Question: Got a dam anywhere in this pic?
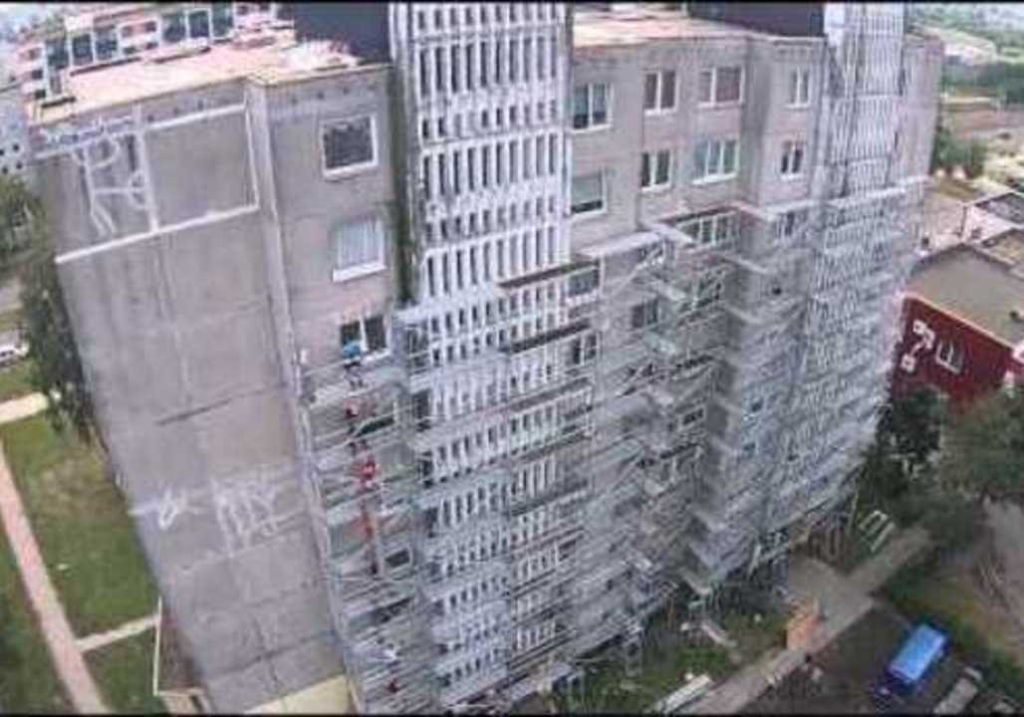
No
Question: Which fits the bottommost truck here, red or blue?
blue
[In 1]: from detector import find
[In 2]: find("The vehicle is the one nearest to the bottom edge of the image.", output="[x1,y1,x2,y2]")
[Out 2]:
[867,620,948,717]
